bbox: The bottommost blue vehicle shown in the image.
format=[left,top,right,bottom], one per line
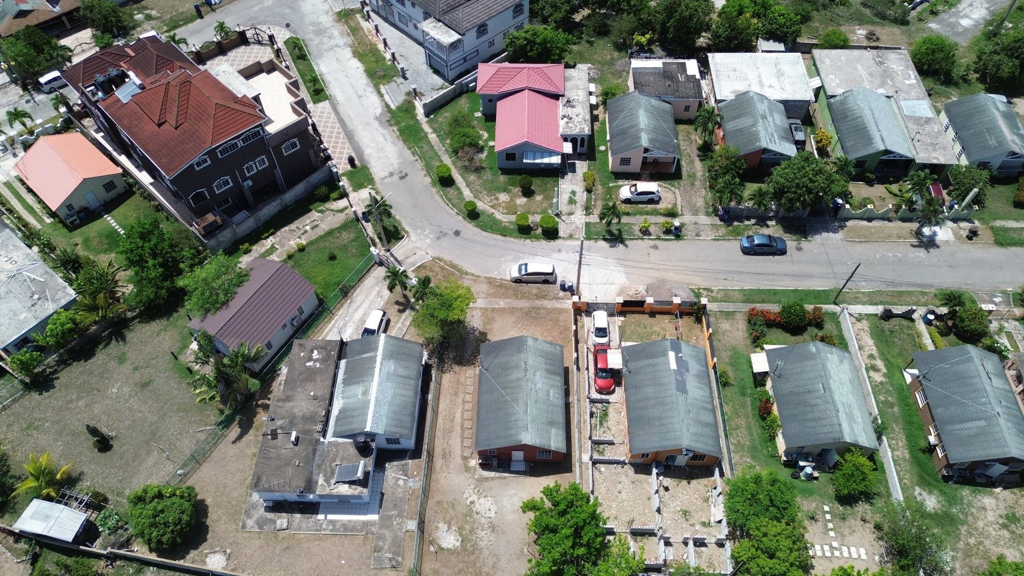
[741,236,790,258]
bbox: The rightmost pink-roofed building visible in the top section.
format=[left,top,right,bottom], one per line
[477,63,596,169]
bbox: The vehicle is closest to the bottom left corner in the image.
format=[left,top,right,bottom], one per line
[357,304,390,339]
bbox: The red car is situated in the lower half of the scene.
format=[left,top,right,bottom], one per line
[594,351,618,398]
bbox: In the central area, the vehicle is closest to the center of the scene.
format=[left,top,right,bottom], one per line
[509,264,557,286]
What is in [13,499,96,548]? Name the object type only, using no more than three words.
shed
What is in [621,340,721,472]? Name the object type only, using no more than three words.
house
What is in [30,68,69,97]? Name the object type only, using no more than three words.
van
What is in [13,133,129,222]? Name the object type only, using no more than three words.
house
